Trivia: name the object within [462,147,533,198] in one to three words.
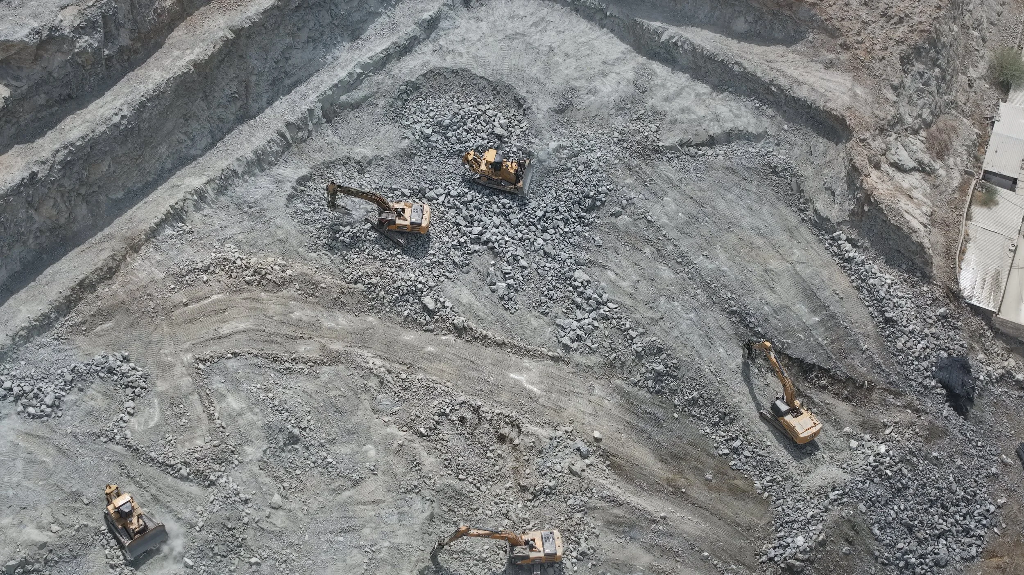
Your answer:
work vehicle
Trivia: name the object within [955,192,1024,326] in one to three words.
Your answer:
shed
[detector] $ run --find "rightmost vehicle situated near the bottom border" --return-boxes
[430,520,563,575]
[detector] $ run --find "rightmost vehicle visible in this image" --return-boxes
[744,338,826,444]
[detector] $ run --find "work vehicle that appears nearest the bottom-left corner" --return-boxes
[100,486,161,567]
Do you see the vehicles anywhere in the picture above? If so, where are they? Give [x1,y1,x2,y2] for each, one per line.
[323,176,430,243]
[100,486,161,567]
[430,520,563,575]
[462,147,533,198]
[744,338,826,444]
